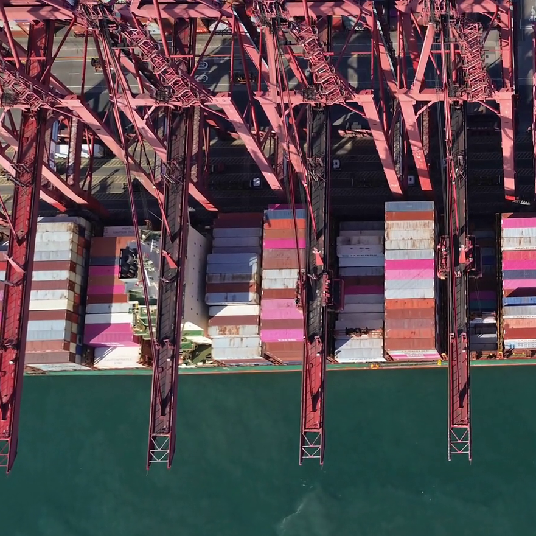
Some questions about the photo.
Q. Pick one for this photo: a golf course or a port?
port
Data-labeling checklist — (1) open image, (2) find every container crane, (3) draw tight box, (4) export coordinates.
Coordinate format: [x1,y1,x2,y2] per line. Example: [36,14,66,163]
[398,0,530,463]
[95,0,309,468]
[0,114,96,222]
[0,0,201,470]
[257,0,412,465]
